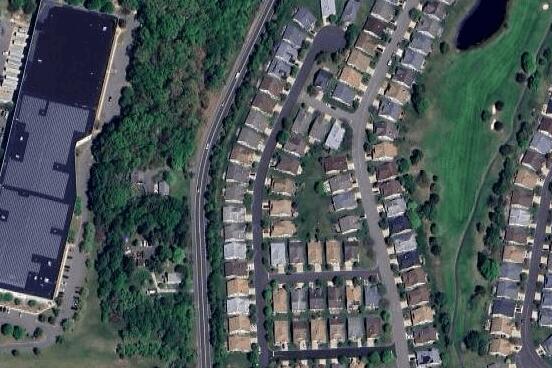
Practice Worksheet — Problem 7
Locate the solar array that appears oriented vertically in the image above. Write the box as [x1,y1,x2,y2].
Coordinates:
[0,98,87,290]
